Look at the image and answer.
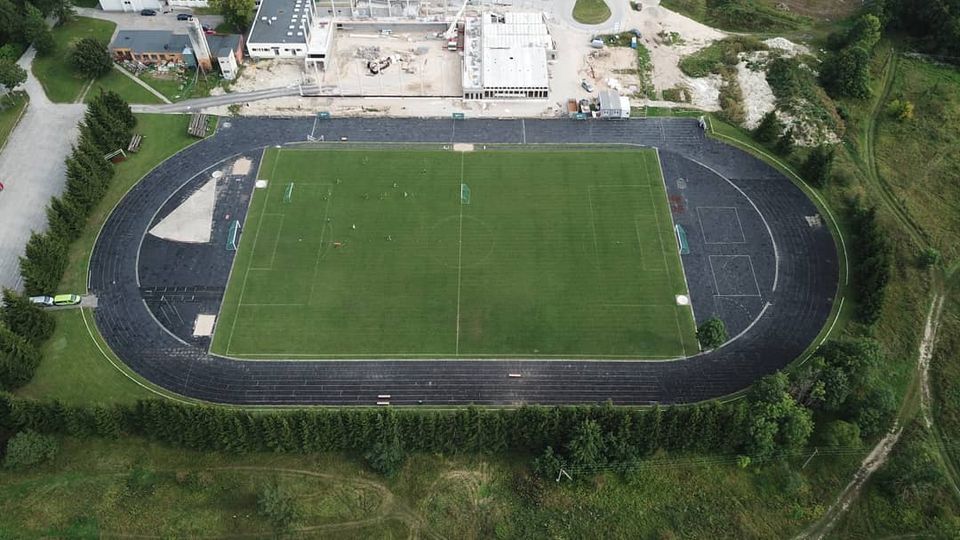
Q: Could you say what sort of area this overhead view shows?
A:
sports ground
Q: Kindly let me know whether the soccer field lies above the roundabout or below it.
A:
below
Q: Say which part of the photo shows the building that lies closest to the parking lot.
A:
top left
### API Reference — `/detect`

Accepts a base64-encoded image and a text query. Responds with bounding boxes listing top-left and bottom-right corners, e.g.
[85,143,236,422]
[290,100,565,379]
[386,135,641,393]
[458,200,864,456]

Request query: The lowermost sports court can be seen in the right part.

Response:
[709,255,761,314]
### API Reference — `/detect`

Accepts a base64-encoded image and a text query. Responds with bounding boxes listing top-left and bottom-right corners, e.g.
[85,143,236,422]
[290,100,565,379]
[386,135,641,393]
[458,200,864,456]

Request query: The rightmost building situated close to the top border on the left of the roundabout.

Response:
[464,10,558,100]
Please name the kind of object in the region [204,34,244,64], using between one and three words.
building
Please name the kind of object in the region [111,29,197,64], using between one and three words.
building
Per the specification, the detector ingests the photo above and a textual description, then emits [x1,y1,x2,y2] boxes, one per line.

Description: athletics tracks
[88,116,839,408]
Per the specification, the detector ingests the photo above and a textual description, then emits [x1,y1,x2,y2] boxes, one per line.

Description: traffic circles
[562,0,622,31]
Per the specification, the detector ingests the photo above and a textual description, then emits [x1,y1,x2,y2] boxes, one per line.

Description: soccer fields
[209,142,699,358]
